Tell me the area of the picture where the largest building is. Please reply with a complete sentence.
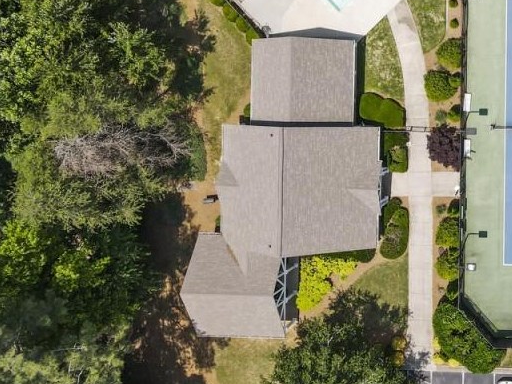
The largest building is in the center part of the image.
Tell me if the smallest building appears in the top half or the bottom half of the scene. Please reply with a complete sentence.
Seen from above, the smallest building lies in the top half of the view.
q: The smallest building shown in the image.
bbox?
[251,37,358,122]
